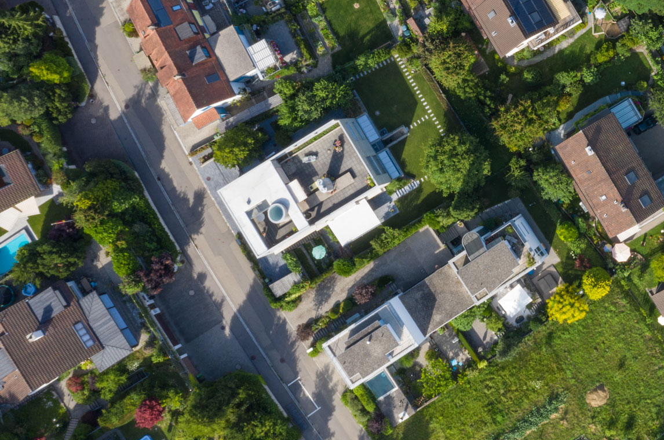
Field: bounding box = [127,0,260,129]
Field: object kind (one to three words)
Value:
house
